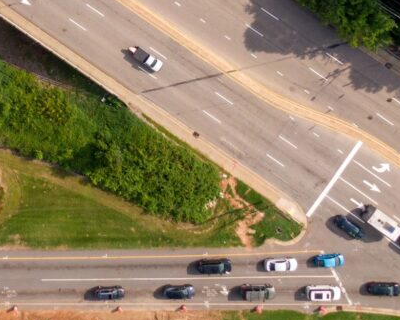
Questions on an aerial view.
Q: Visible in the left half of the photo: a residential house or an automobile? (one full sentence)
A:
There is an automobile in the left half of the photo.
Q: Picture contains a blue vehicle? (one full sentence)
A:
Yes, the picture does show a blue vehicle.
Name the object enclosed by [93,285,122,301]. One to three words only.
car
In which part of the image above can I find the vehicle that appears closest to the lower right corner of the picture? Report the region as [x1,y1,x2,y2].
[367,281,400,298]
